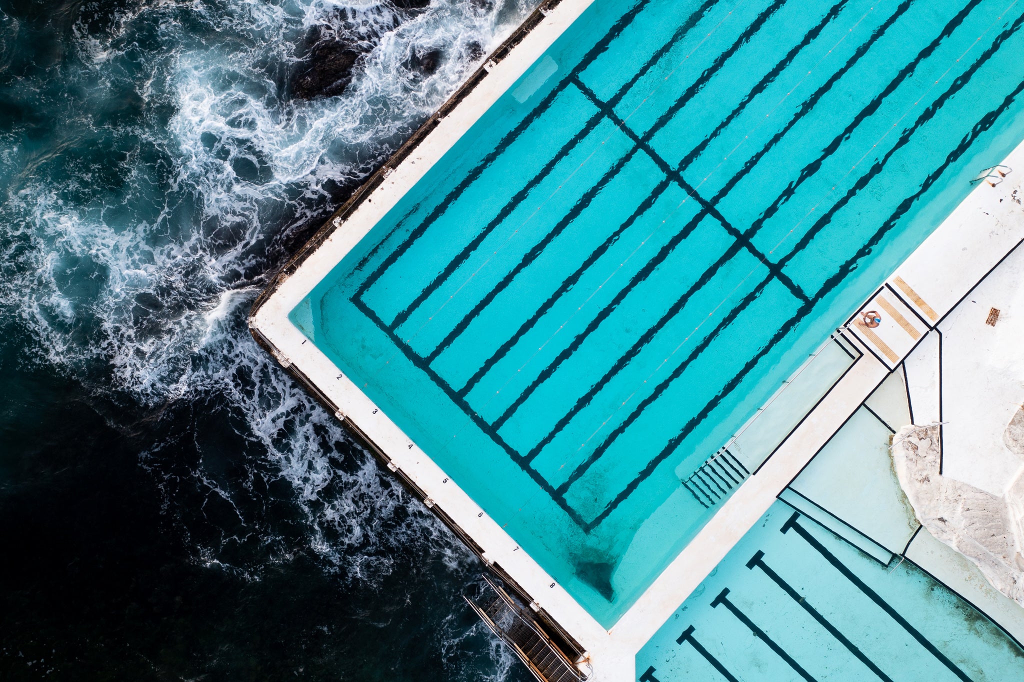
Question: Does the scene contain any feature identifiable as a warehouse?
No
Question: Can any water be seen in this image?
Yes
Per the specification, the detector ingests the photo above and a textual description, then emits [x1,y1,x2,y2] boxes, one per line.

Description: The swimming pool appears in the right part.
[290,0,1024,630]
